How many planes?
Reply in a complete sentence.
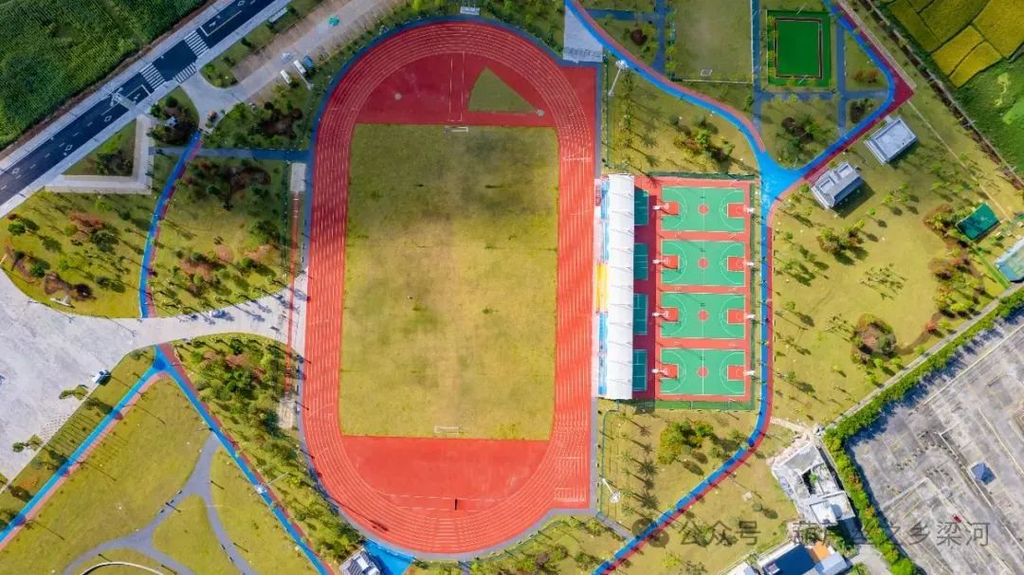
The picture shows no planes.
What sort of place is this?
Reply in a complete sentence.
It's a sports ground.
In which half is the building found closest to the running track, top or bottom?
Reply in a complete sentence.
The building found closest to the running track is in the bottom half of the image.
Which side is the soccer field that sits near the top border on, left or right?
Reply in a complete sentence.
The soccer field that sits near the top border appears in the right half of the scene.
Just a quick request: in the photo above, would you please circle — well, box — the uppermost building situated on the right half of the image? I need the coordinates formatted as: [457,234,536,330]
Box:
[864,118,916,165]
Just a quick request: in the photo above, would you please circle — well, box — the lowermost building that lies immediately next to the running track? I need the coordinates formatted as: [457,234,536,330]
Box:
[339,545,382,575]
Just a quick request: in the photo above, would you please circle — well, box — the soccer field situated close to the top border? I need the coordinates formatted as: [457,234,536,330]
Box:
[674,0,753,83]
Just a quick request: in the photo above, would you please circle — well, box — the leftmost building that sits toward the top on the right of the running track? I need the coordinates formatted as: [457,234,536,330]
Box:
[809,163,858,209]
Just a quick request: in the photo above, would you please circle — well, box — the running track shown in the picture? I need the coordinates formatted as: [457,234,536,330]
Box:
[303,22,595,558]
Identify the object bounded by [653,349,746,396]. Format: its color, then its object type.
green basketball court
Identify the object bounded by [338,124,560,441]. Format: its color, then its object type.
yellow soccer field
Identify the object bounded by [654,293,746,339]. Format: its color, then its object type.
green basketball court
